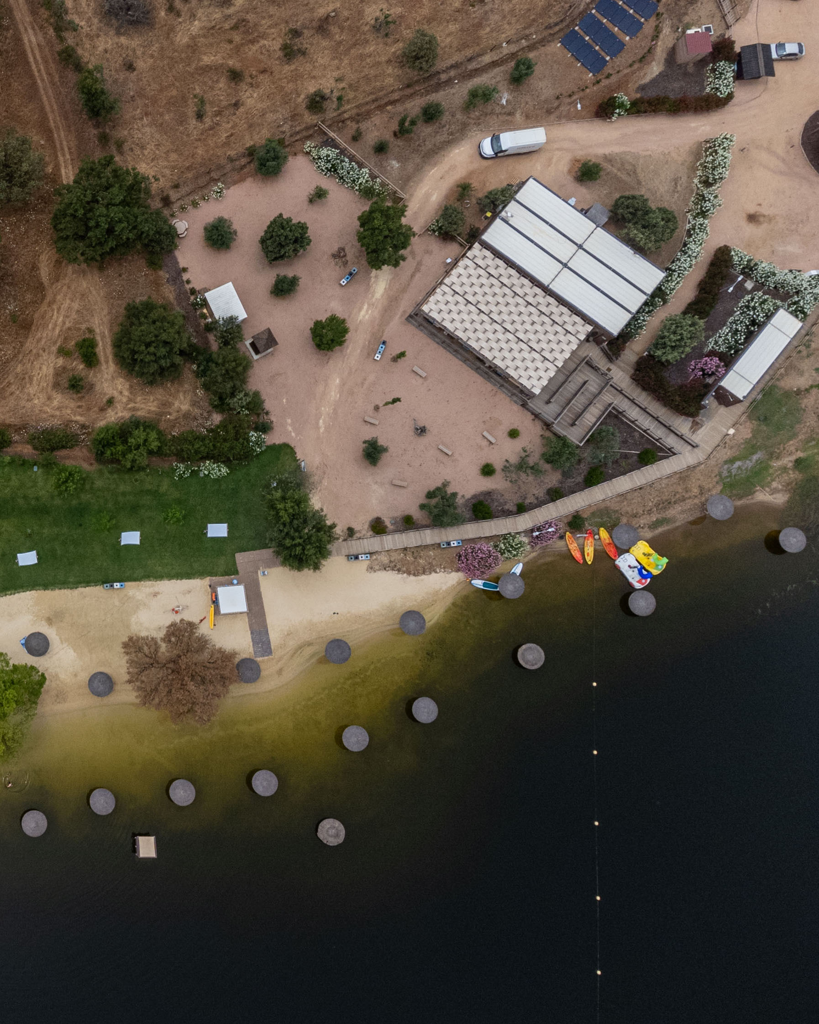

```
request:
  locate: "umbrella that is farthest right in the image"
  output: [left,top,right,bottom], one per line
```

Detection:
[776,527,804,554]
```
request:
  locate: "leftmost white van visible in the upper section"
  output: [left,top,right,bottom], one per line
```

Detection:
[479,124,543,158]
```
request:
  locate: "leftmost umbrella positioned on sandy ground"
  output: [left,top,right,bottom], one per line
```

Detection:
[24,631,50,657]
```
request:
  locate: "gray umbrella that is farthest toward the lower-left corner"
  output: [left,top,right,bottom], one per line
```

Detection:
[23,808,50,835]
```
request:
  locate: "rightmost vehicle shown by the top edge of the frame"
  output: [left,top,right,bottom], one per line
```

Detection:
[771,41,806,63]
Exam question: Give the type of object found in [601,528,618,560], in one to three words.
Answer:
boat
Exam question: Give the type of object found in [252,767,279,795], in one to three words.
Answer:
umbrella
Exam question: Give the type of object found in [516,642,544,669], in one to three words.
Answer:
umbrella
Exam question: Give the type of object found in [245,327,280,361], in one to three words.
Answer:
shed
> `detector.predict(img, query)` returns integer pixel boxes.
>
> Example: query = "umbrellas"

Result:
[612,523,637,549]
[627,589,654,616]
[170,776,197,804]
[498,573,524,598]
[89,670,115,696]
[411,695,438,722]
[776,527,804,554]
[399,609,425,635]
[23,808,50,835]
[252,767,279,795]
[91,786,118,813]
[705,493,732,520]
[342,723,369,750]
[236,657,262,683]
[24,631,50,657]
[318,816,345,844]
[325,637,351,663]
[516,642,544,669]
